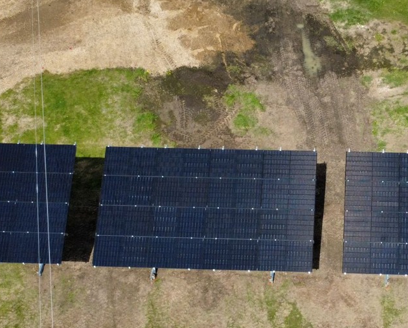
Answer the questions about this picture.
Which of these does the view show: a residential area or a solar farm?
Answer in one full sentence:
It's a solar farm.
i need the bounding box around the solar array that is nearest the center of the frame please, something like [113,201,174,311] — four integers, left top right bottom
[93,143,317,283]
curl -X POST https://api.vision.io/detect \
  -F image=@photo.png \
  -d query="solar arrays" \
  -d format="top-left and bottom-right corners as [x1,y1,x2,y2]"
[93,143,317,283]
[0,140,76,276]
[343,148,408,288]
